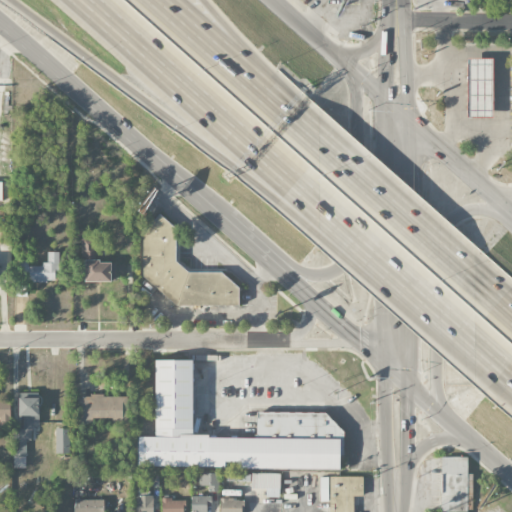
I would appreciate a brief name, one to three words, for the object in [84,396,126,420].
house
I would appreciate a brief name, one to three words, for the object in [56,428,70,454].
shed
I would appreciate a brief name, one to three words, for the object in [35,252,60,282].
house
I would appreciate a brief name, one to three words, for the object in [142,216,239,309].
building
